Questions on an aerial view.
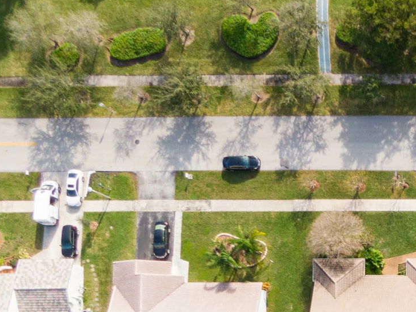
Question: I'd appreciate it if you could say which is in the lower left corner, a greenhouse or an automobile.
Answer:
automobile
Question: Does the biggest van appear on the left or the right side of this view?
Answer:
left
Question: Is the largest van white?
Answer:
Yes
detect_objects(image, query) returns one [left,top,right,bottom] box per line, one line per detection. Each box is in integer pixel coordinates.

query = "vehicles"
[59,224,79,257]
[222,153,261,171]
[152,221,171,259]
[65,169,86,207]
[29,181,61,227]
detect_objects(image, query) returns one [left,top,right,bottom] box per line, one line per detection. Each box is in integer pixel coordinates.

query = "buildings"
[107,258,269,312]
[0,258,86,312]
[310,258,416,312]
